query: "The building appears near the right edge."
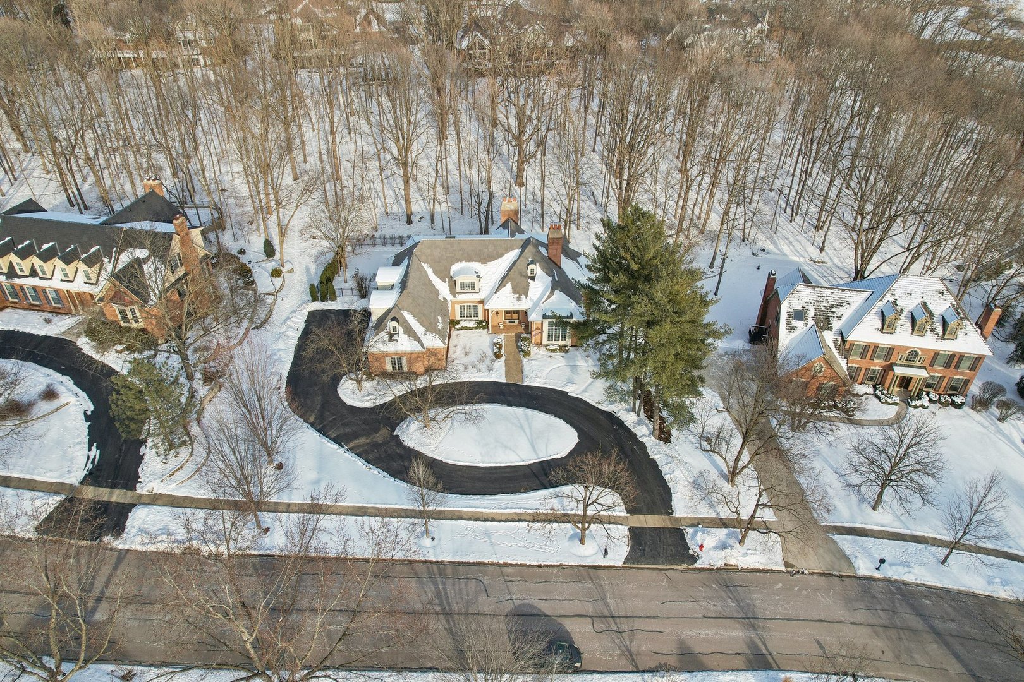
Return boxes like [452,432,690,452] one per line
[744,252,994,400]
